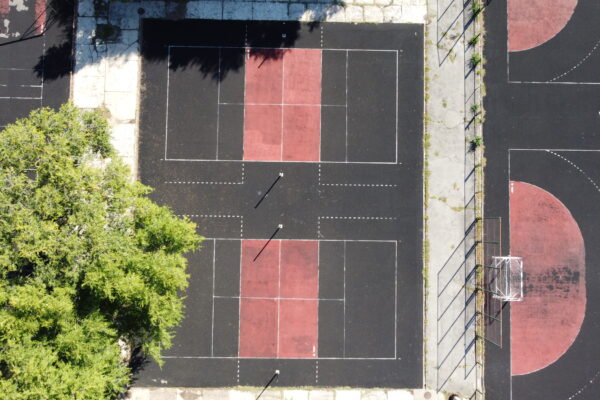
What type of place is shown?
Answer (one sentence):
The picture captures a sports ground.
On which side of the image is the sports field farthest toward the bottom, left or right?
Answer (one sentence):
It is on the right.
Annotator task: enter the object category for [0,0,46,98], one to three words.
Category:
sports court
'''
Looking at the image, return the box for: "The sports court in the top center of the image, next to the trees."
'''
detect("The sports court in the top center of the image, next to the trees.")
[162,26,401,186]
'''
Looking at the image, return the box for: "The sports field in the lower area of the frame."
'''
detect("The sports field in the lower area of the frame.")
[509,150,600,400]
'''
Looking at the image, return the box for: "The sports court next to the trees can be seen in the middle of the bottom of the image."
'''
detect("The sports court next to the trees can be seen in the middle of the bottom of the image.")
[155,215,401,381]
